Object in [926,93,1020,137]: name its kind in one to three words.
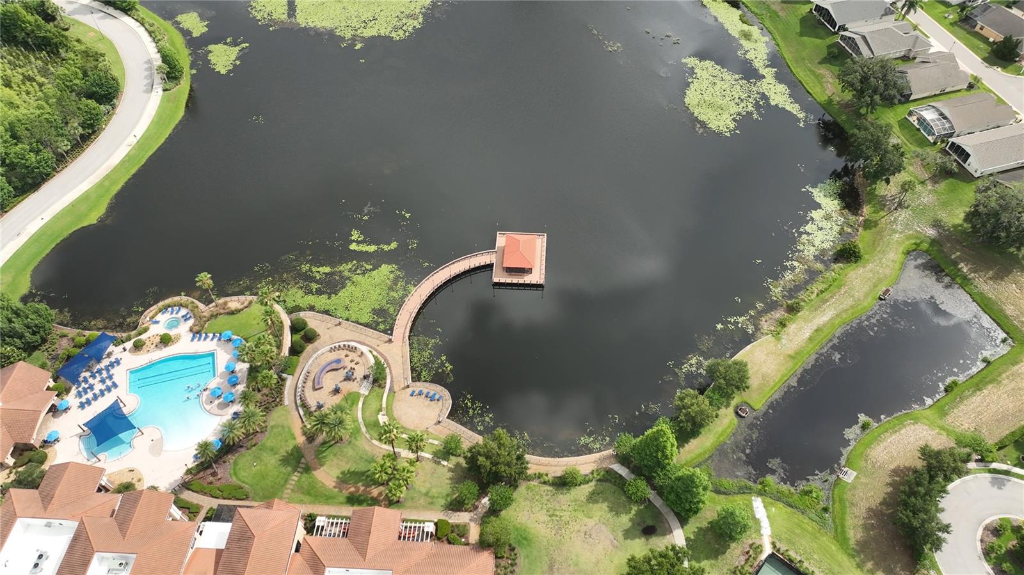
building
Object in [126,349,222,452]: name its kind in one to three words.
swimming pool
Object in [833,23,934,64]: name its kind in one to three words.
house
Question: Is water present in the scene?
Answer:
Yes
